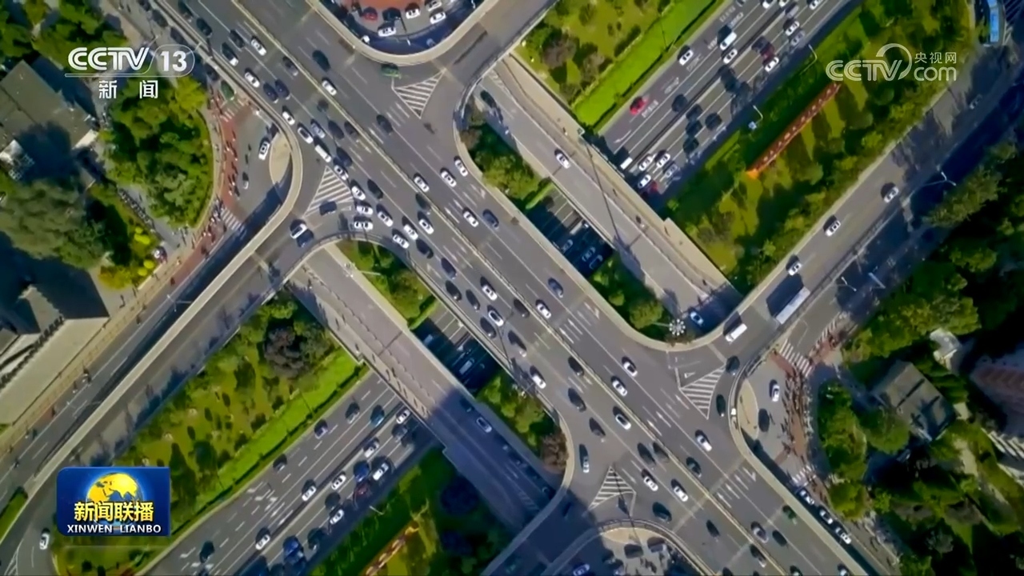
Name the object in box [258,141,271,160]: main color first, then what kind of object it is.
white vehicle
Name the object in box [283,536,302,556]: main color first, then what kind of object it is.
blue vehicle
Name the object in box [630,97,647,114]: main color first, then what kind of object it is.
red car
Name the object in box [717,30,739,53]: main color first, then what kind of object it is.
white vehicle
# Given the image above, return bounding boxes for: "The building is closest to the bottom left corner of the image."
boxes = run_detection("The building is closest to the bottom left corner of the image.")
[0,284,109,434]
